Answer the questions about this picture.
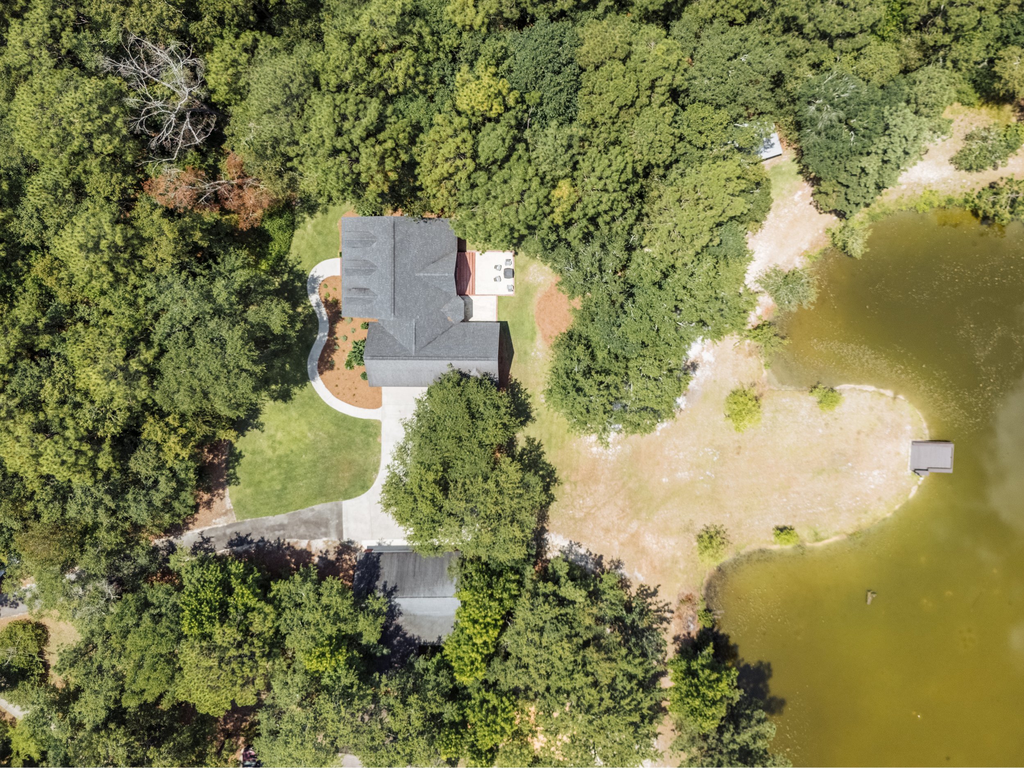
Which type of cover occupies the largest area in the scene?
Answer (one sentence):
The scene is dominated by trees.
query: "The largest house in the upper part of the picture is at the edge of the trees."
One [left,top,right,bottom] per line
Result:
[342,216,499,386]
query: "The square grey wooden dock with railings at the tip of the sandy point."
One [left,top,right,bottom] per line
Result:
[907,438,954,481]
